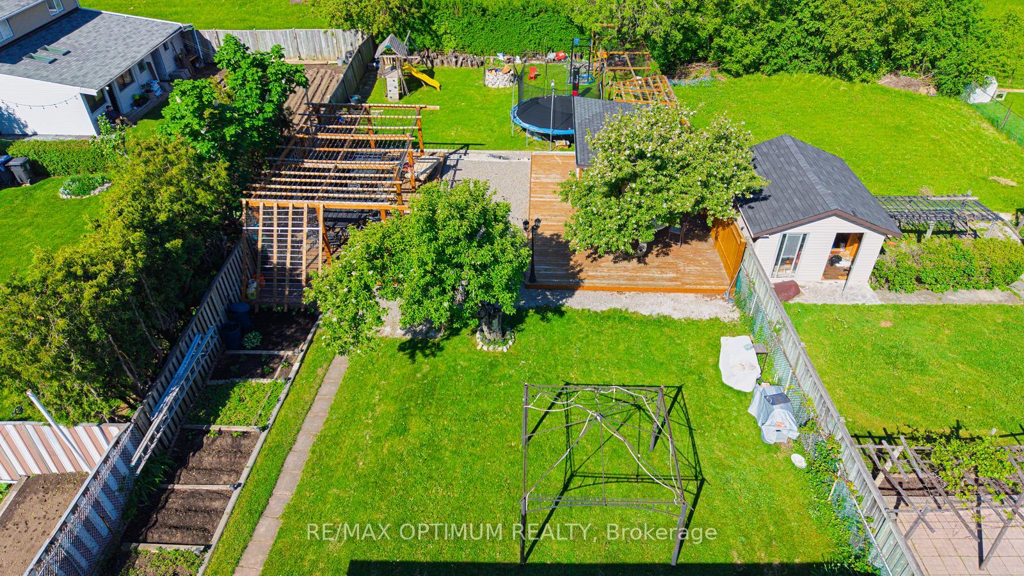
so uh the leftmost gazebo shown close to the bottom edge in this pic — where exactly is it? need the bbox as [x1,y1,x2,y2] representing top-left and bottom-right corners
[517,381,696,568]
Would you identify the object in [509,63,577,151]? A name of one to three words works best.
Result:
trampoline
